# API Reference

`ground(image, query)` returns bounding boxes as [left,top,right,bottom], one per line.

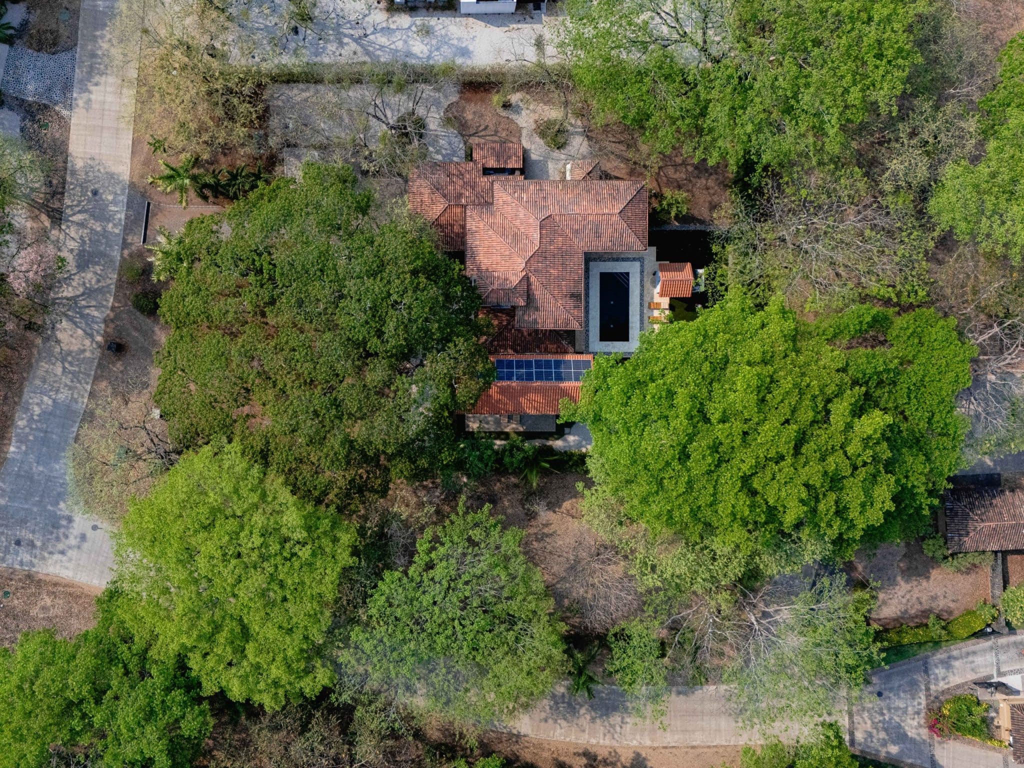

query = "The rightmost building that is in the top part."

[652,261,704,299]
